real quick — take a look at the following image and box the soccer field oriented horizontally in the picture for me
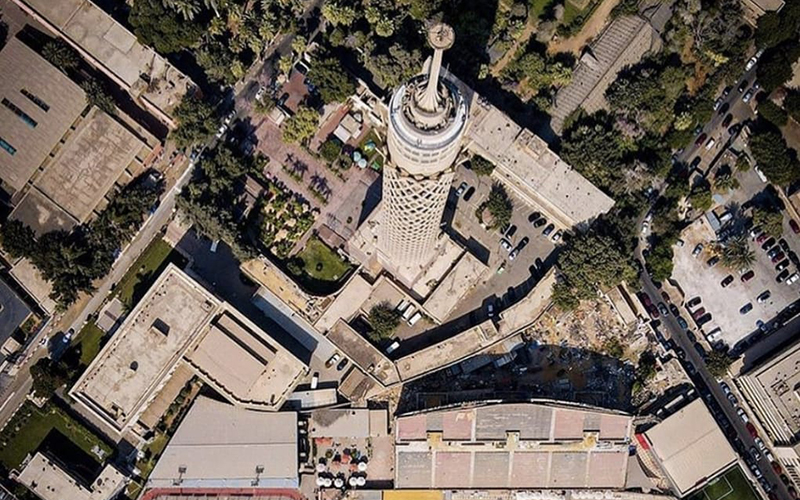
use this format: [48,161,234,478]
[684,466,762,500]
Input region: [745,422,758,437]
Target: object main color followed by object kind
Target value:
red vehicle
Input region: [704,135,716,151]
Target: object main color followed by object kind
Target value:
white vehicle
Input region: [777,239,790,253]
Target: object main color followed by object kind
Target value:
black vehicle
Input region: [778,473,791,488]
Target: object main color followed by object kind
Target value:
black vehicle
